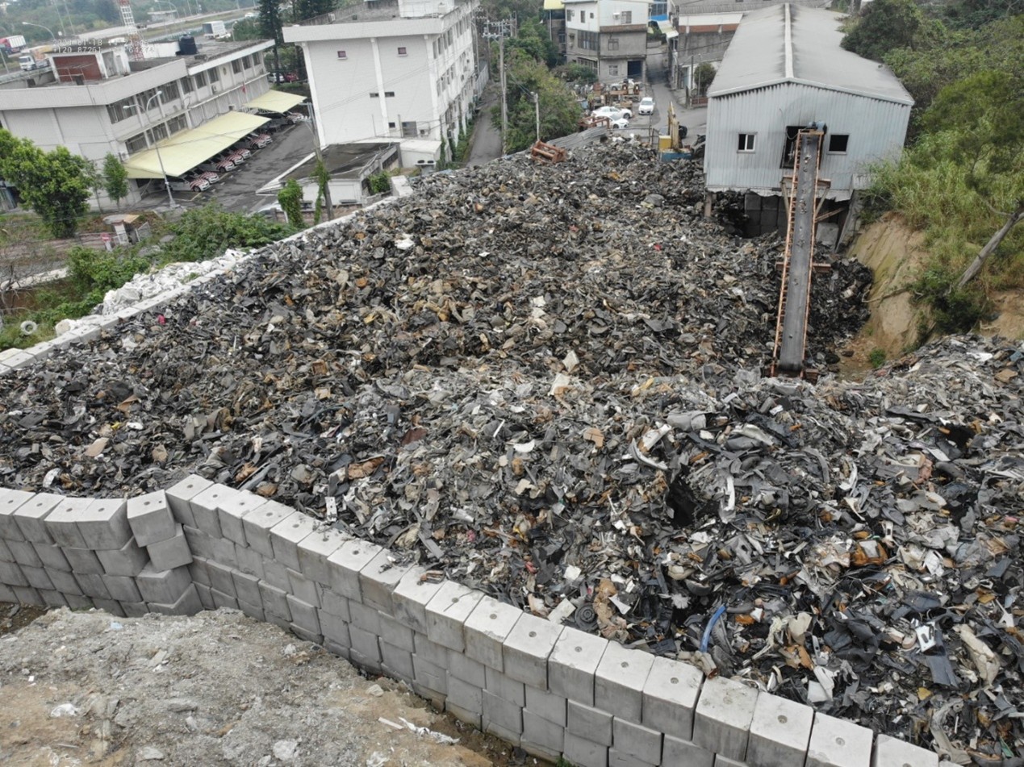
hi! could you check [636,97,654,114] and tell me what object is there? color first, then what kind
white car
